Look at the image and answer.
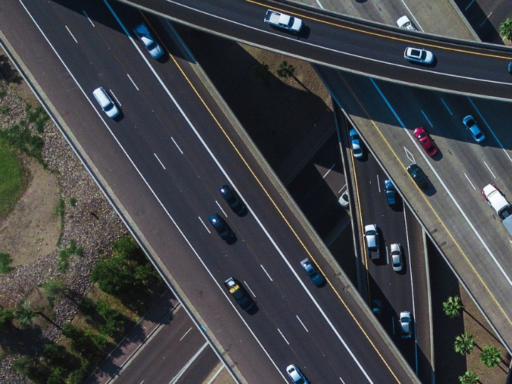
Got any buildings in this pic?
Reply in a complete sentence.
No, the photo shows no building.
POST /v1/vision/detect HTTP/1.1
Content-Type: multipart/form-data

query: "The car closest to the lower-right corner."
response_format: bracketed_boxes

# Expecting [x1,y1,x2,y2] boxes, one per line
[398,309,412,339]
